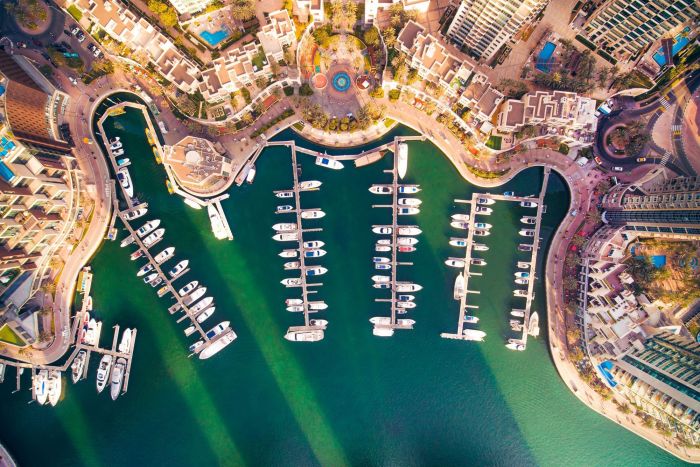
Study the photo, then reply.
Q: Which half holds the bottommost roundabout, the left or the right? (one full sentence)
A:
The bottommost roundabout sits on the right side.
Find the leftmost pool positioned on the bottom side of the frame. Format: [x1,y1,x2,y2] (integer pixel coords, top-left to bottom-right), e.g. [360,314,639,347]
[591,358,619,394]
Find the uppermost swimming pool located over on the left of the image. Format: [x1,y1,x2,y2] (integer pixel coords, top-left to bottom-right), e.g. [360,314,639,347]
[188,5,240,50]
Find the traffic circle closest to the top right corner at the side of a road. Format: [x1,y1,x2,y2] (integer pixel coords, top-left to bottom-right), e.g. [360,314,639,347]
[593,108,659,169]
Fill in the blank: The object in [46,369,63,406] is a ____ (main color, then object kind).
white boat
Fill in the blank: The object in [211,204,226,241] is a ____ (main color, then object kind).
white boat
